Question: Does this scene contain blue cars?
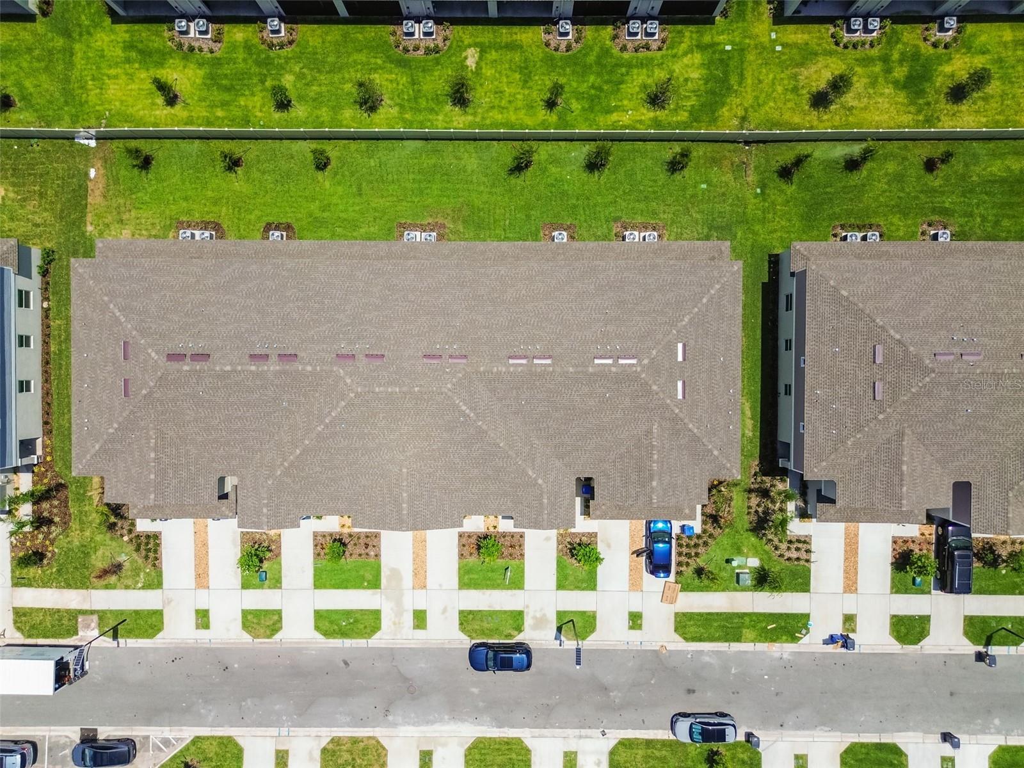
Yes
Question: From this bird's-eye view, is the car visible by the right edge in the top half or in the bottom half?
bottom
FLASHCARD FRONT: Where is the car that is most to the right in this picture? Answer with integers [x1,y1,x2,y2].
[935,517,974,592]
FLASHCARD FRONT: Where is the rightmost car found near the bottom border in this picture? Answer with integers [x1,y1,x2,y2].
[672,711,739,746]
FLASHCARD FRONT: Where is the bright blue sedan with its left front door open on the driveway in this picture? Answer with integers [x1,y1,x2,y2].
[634,517,676,577]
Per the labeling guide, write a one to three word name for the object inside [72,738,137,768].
car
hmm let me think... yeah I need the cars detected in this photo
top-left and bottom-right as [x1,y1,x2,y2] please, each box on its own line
[470,643,532,676]
[672,711,739,746]
[72,738,137,768]
[935,517,974,592]
[634,517,676,577]
[0,742,36,768]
